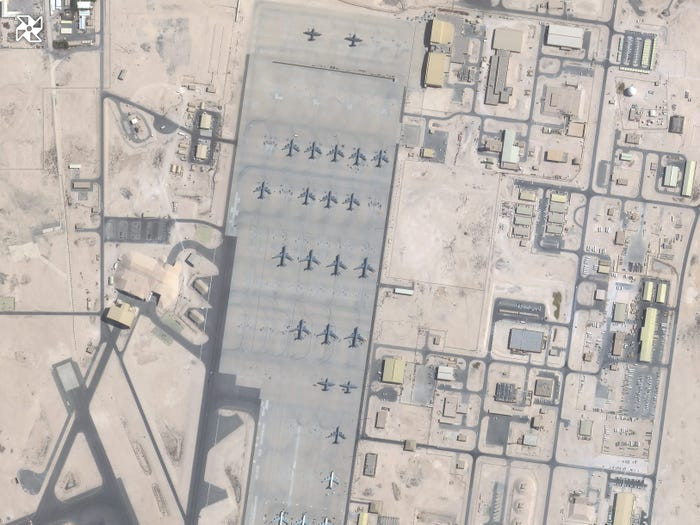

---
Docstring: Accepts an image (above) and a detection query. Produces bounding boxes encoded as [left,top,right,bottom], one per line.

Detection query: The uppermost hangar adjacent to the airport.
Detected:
[431,19,455,44]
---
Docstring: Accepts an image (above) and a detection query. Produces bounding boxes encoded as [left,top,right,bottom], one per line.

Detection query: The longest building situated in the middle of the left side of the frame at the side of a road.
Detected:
[107,305,135,326]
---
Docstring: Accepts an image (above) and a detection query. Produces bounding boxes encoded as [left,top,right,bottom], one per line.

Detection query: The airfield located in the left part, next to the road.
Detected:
[6,0,424,525]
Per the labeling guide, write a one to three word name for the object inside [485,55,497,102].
shed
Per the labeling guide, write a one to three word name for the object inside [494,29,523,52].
building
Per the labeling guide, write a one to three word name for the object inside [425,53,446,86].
hangar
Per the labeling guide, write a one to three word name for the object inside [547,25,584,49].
building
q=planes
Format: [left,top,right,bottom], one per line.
[294,514,310,525]
[297,187,314,206]
[371,150,388,167]
[273,512,290,525]
[282,139,299,157]
[290,319,310,341]
[253,182,271,200]
[340,381,358,394]
[326,255,347,276]
[319,191,337,208]
[317,378,335,391]
[354,258,375,279]
[323,472,340,489]
[349,148,366,165]
[328,427,345,444]
[304,142,321,159]
[326,145,344,163]
[345,327,364,348]
[299,250,320,271]
[342,193,360,211]
[304,28,321,41]
[317,324,337,345]
[345,33,362,46]
[272,246,293,267]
